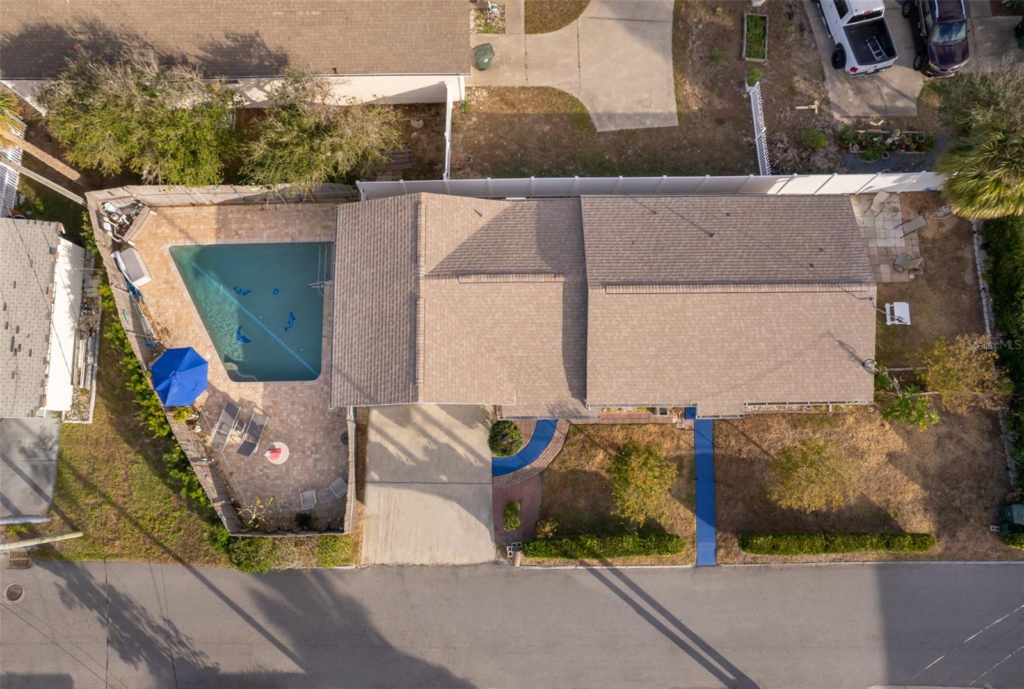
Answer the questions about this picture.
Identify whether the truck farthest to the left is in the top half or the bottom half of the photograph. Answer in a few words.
top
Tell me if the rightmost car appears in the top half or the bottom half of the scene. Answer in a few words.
top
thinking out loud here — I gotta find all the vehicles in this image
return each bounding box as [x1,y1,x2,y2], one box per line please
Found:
[828,0,904,80]
[903,0,970,82]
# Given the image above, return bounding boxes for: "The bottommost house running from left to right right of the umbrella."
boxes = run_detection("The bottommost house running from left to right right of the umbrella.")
[326,191,875,424]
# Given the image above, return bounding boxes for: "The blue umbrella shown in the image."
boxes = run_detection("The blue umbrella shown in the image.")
[157,350,216,408]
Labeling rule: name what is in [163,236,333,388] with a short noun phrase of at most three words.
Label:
swimming pool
